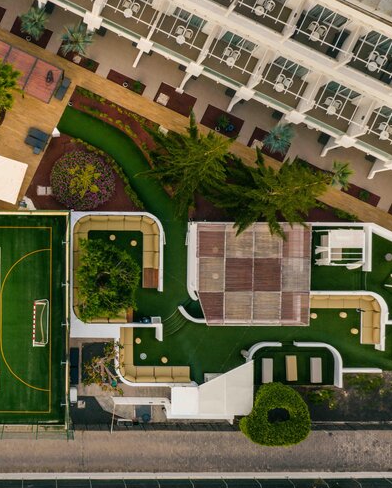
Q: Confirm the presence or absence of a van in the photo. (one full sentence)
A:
No, I can't see a single van in this photo.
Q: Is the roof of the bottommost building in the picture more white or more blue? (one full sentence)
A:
The roof of the bottommost building is white.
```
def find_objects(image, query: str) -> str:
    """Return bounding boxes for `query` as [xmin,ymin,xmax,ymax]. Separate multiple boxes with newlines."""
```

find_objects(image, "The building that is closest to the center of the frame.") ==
[192,223,311,325]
